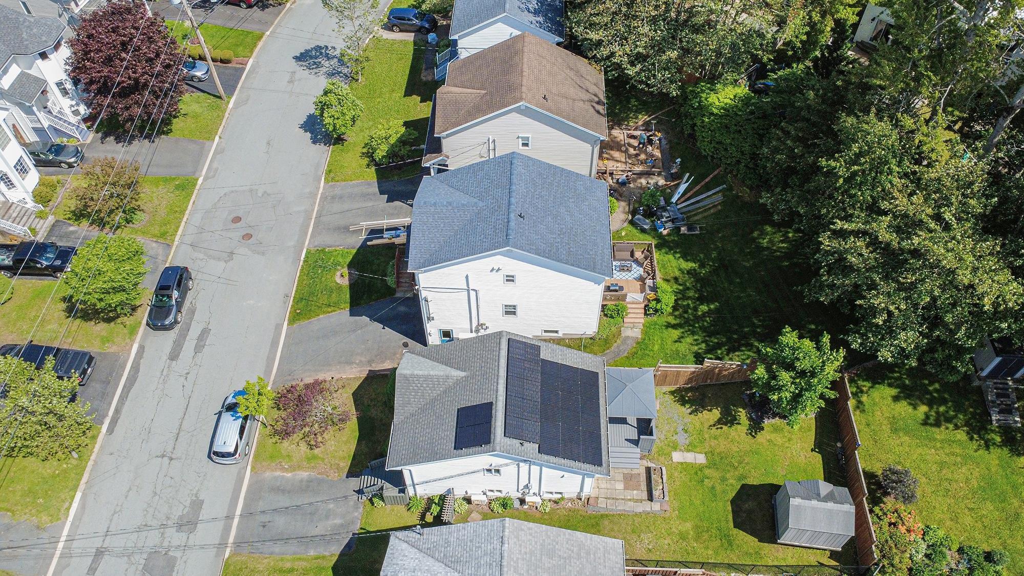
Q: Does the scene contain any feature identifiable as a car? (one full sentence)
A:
Yes, there is a car in the image.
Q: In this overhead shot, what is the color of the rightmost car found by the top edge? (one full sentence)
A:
From above, the rightmost car found by the top edge appears blue.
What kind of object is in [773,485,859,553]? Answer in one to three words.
shed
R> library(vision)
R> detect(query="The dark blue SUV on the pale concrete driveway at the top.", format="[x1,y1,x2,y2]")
[384,4,436,31]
